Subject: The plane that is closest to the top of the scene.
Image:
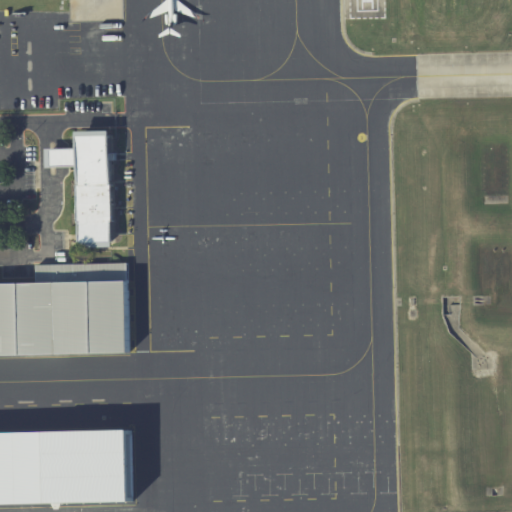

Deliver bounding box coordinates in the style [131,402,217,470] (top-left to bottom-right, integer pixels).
[141,0,202,38]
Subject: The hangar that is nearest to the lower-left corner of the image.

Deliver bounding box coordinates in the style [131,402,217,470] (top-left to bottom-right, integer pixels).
[0,429,134,510]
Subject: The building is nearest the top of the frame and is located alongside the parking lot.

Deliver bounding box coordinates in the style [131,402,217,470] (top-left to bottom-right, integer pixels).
[43,130,118,250]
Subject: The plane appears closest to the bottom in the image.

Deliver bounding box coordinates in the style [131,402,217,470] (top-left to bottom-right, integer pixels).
[152,228,176,244]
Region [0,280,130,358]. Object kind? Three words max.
hangar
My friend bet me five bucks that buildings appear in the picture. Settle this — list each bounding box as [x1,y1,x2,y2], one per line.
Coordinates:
[0,429,134,510]
[0,280,130,358]
[43,130,118,250]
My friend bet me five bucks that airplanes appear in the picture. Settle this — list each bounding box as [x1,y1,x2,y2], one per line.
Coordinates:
[141,0,202,38]
[152,228,176,244]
